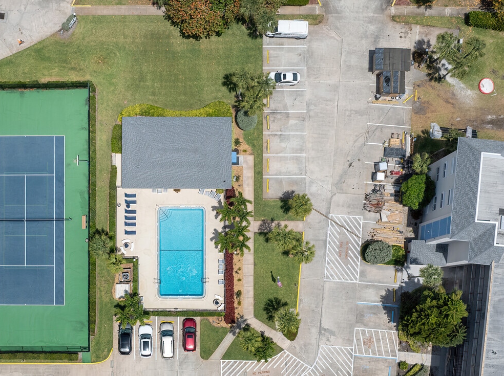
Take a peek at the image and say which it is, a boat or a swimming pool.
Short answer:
swimming pool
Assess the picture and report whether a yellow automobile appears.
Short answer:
No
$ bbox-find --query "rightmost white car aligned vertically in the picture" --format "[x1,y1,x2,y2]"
[159,323,175,360]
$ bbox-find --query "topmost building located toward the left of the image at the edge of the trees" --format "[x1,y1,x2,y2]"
[122,116,233,191]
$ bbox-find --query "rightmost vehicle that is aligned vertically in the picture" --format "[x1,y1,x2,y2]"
[181,319,198,352]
